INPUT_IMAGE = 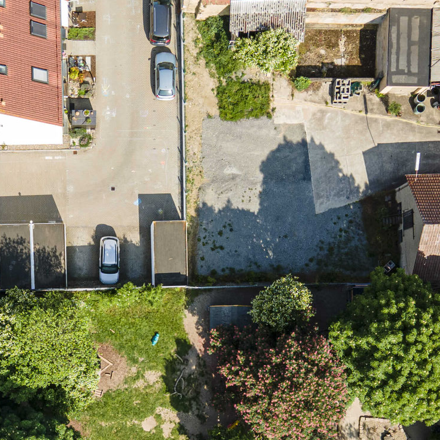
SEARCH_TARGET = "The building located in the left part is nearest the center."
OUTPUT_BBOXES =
[152,220,187,289]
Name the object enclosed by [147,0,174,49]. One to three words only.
car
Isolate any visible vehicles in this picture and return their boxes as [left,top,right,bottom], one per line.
[147,0,174,49]
[96,234,122,285]
[153,54,178,103]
